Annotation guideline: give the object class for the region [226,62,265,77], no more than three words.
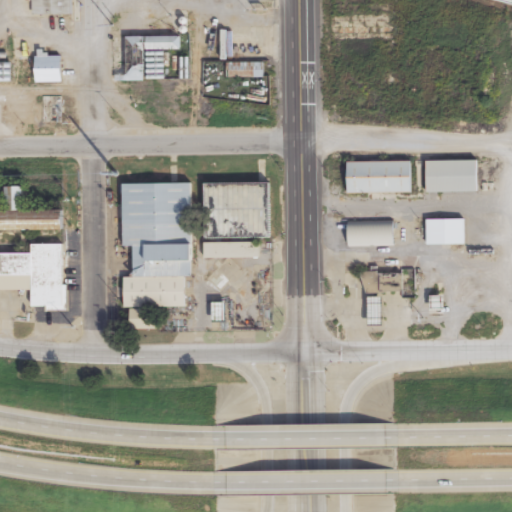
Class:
shed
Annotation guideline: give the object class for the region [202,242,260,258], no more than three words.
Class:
building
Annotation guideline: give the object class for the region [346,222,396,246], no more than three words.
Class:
shed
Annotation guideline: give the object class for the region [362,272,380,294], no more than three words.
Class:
building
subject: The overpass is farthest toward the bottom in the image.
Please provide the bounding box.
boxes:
[218,470,394,495]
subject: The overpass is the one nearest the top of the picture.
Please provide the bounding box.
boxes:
[218,423,394,449]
